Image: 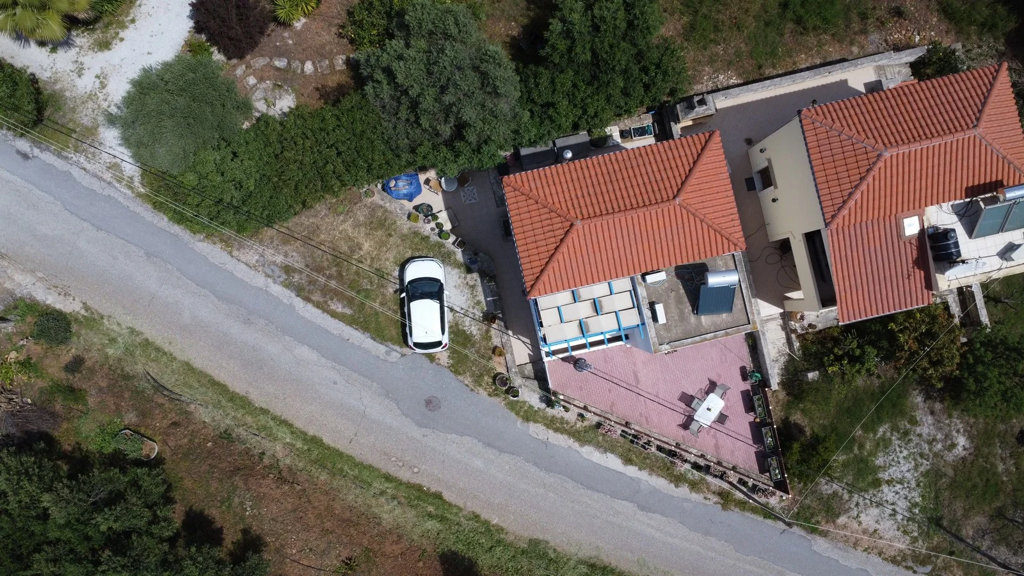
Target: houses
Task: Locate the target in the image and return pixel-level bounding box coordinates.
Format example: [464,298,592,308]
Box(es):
[499,127,759,361]
[746,59,1024,326]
